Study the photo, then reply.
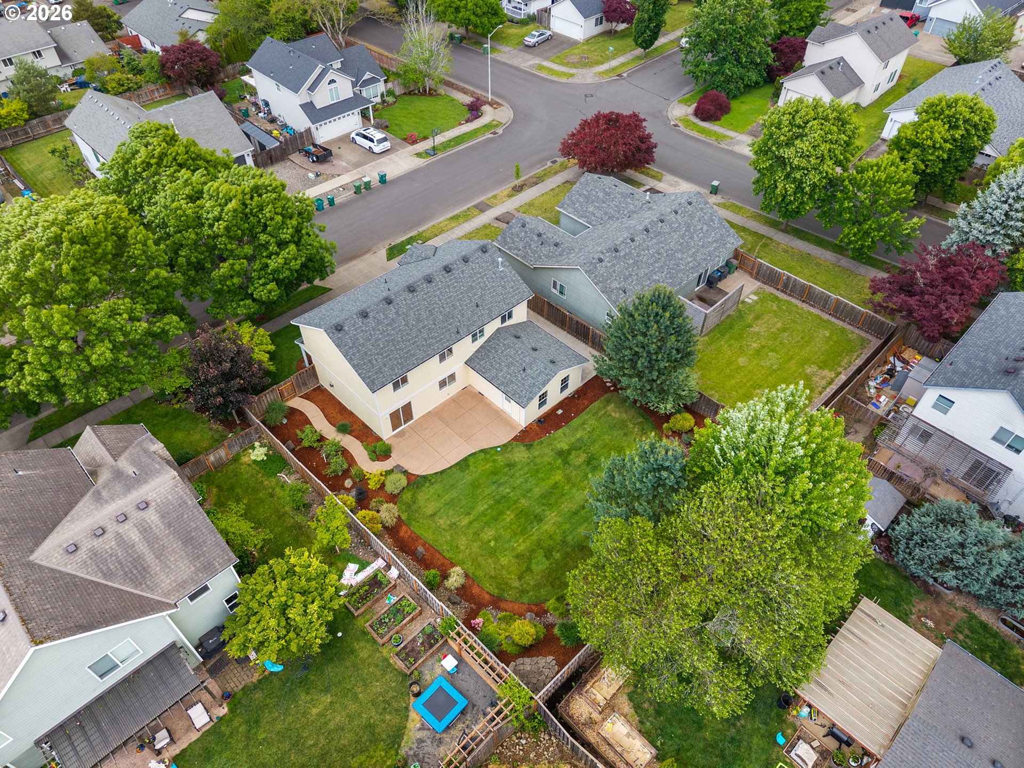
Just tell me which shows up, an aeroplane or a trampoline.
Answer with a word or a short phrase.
trampoline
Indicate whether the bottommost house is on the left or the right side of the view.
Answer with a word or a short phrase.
right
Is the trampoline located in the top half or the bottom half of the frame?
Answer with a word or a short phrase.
bottom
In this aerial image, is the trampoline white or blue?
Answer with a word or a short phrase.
blue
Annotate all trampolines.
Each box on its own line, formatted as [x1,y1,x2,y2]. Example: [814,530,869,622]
[412,676,468,736]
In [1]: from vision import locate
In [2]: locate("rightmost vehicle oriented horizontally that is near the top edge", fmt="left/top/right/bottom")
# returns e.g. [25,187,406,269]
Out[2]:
[522,30,550,44]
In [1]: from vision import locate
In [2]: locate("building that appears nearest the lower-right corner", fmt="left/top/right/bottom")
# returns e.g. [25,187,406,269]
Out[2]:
[878,642,1024,768]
